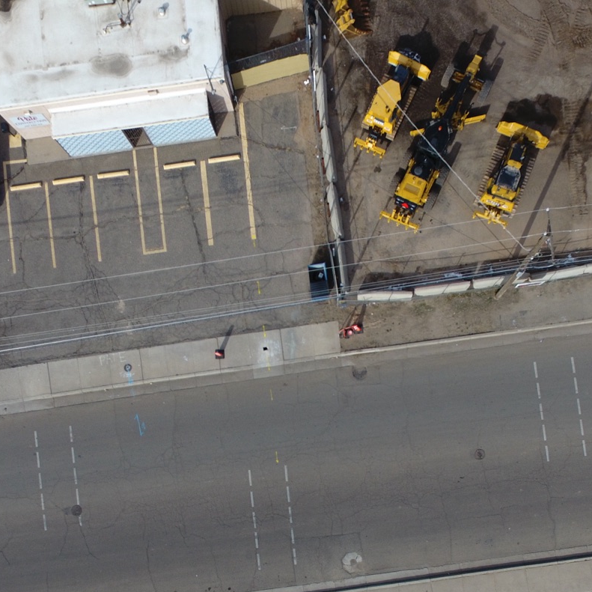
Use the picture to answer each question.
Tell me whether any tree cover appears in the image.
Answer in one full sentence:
No, there's no tree cover in this view.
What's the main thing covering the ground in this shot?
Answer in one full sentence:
What you mostly see from above here is paved ground.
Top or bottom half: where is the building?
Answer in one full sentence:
The building is in the top half of the image.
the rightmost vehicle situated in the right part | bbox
[476,122,555,226]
